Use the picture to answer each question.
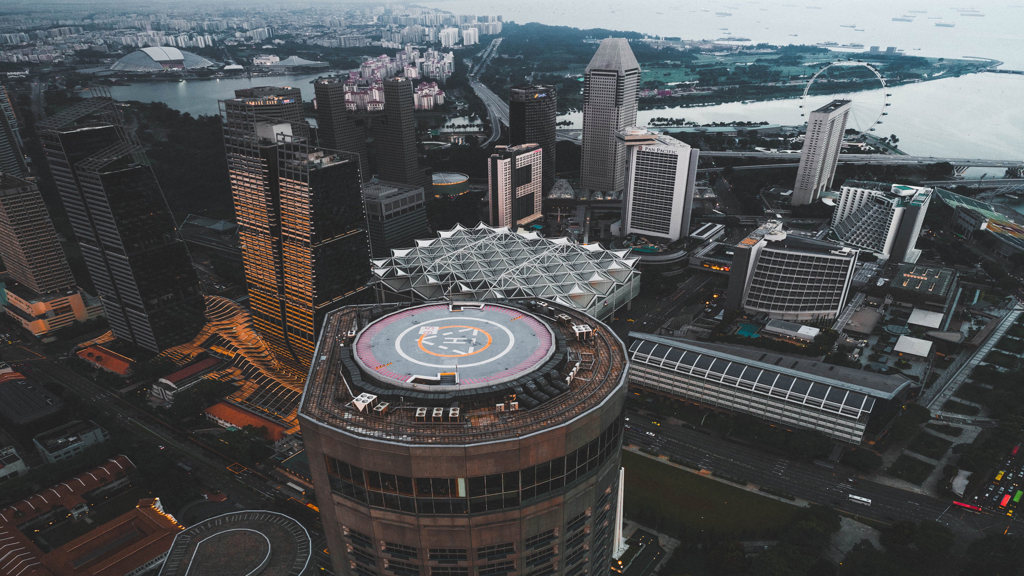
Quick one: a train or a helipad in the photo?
helipad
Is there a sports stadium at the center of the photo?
No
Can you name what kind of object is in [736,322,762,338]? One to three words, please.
swimming pool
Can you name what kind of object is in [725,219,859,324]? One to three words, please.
building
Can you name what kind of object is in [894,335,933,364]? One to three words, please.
building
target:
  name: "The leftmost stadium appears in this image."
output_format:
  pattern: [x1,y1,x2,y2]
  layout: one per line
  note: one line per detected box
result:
[105,45,217,70]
